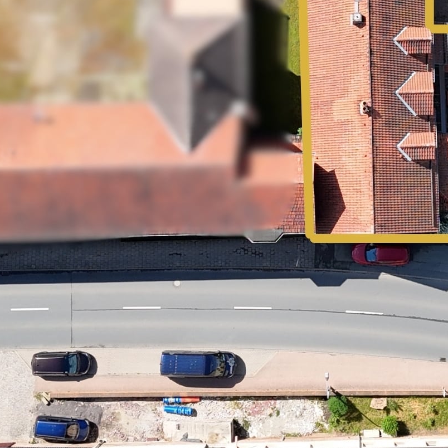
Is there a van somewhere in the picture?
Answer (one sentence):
Yes, there's a van down there.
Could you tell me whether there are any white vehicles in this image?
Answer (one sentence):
No, no white vehicle is visible in the view.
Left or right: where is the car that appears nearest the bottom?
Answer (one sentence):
The car that appears nearest the bottom is on the left side of the image.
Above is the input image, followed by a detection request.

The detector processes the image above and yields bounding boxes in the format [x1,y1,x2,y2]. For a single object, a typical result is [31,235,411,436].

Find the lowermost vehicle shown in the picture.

[30,412,95,448]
